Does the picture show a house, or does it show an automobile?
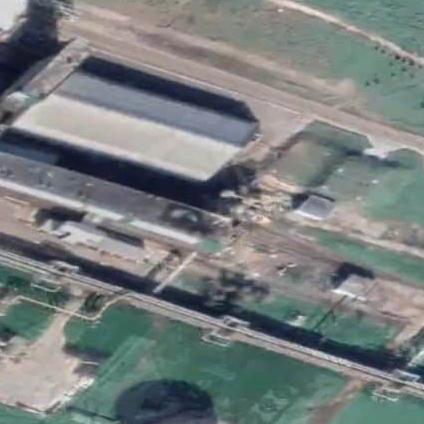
house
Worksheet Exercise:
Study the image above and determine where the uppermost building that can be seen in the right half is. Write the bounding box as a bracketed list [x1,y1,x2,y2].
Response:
[295,195,336,220]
